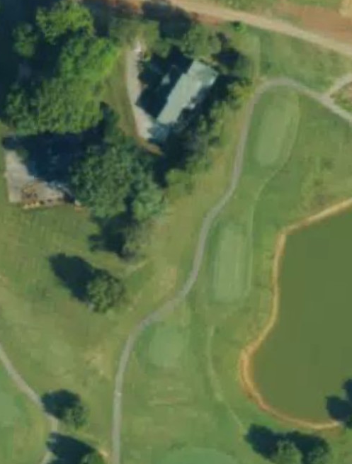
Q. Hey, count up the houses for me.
2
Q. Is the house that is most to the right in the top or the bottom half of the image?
top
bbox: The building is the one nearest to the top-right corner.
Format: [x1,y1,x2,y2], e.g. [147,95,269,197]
[149,56,224,137]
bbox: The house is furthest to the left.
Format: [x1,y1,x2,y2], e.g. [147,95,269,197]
[2,146,73,206]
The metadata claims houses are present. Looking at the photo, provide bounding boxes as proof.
[2,146,73,206]
[149,56,224,137]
